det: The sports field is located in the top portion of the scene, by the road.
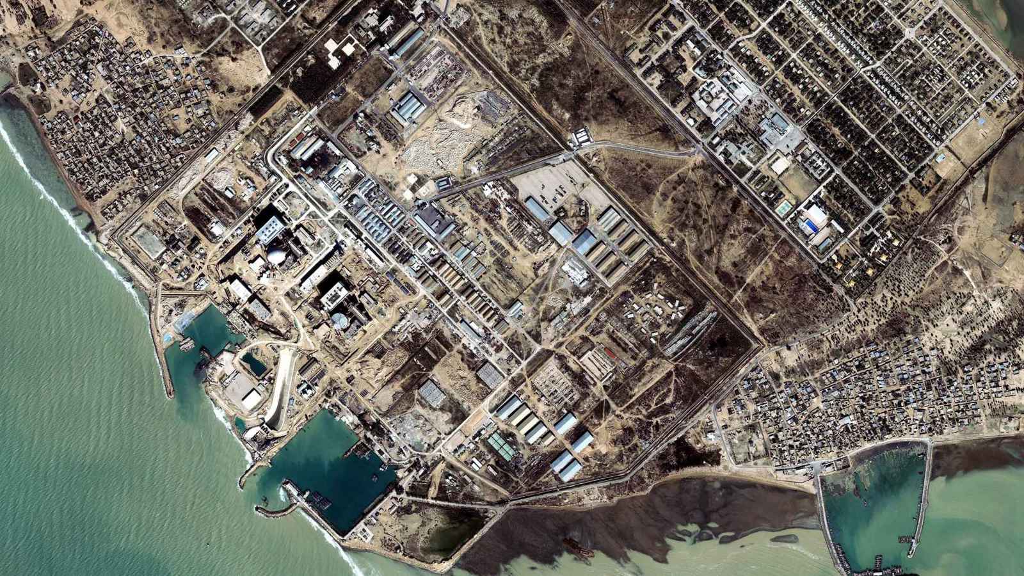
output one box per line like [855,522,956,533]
[781,164,818,201]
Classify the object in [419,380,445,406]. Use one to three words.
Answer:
building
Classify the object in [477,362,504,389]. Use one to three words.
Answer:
building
